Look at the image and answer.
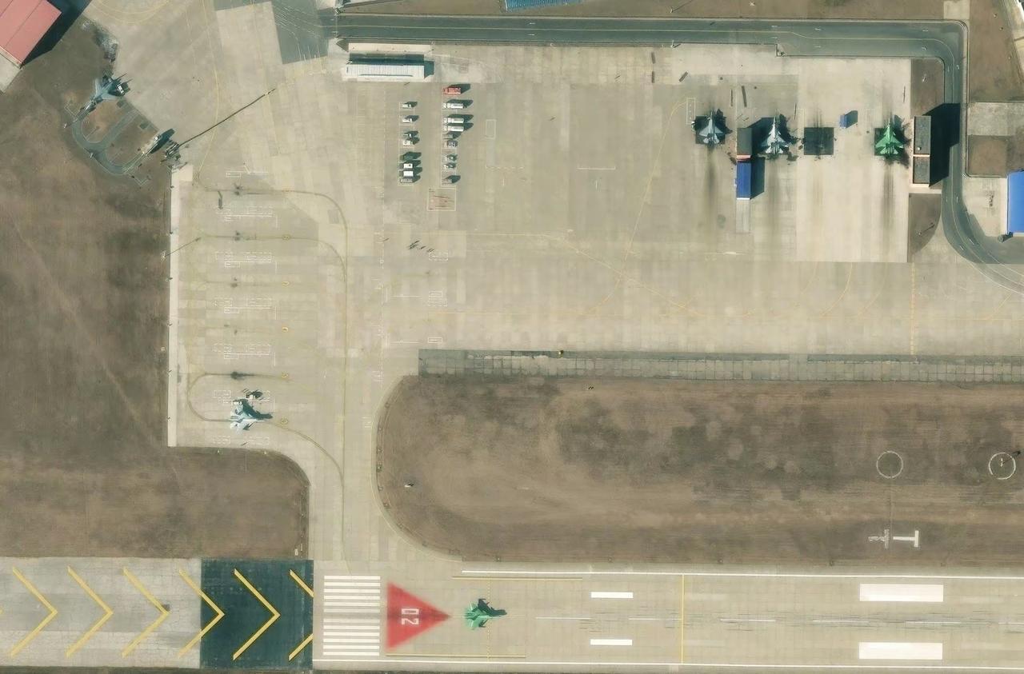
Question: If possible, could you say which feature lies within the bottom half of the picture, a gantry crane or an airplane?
airplane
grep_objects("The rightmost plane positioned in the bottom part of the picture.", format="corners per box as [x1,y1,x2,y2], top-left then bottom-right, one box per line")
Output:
[462,603,501,630]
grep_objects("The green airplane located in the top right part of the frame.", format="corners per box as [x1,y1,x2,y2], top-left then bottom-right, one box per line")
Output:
[876,119,903,155]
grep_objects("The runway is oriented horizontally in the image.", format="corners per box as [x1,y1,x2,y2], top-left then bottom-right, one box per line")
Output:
[313,560,1024,674]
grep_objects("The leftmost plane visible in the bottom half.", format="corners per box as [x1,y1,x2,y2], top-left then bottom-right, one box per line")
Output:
[227,404,265,431]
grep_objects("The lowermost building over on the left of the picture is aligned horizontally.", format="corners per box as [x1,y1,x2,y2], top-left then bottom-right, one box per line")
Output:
[346,64,424,79]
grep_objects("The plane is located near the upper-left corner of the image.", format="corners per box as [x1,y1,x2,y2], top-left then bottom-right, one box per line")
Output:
[89,75,120,106]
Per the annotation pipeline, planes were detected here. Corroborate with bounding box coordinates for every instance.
[876,119,903,155]
[89,75,120,106]
[762,117,789,154]
[698,110,724,146]
[227,404,265,431]
[462,603,501,630]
